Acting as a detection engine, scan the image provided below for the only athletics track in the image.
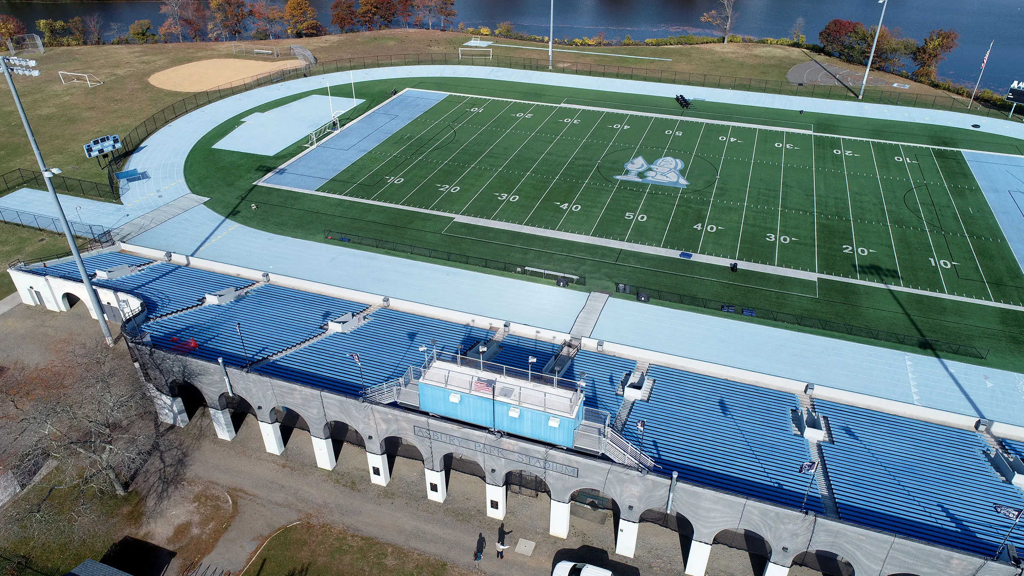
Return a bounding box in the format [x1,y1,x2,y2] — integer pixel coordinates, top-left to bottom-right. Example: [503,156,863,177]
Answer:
[0,65,1024,425]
